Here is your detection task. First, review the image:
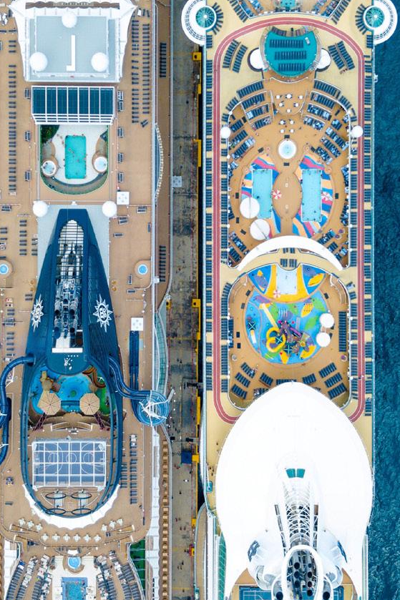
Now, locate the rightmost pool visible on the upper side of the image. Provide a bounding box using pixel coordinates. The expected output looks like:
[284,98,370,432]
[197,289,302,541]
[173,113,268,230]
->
[293,155,334,237]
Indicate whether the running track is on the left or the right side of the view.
right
